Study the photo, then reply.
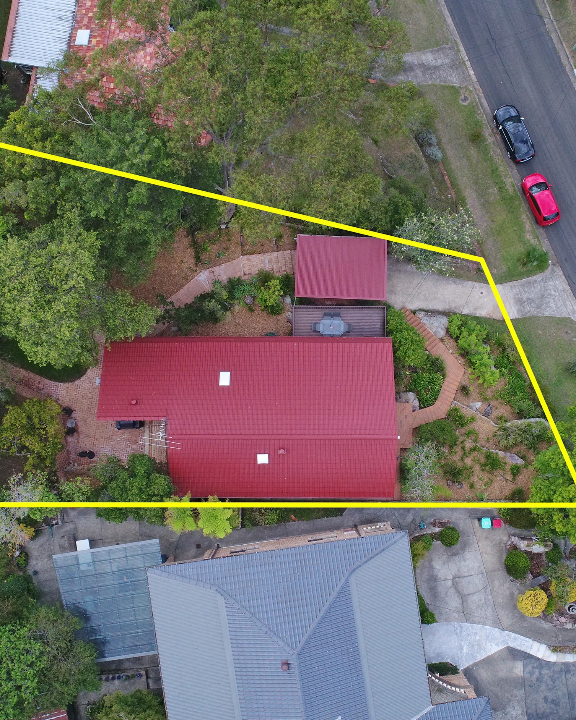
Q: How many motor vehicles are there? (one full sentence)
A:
I count 2 motor vehicles.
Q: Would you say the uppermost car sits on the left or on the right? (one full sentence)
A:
The uppermost car sits on the right side.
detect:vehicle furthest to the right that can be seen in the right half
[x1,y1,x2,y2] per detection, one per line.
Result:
[522,172,560,229]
